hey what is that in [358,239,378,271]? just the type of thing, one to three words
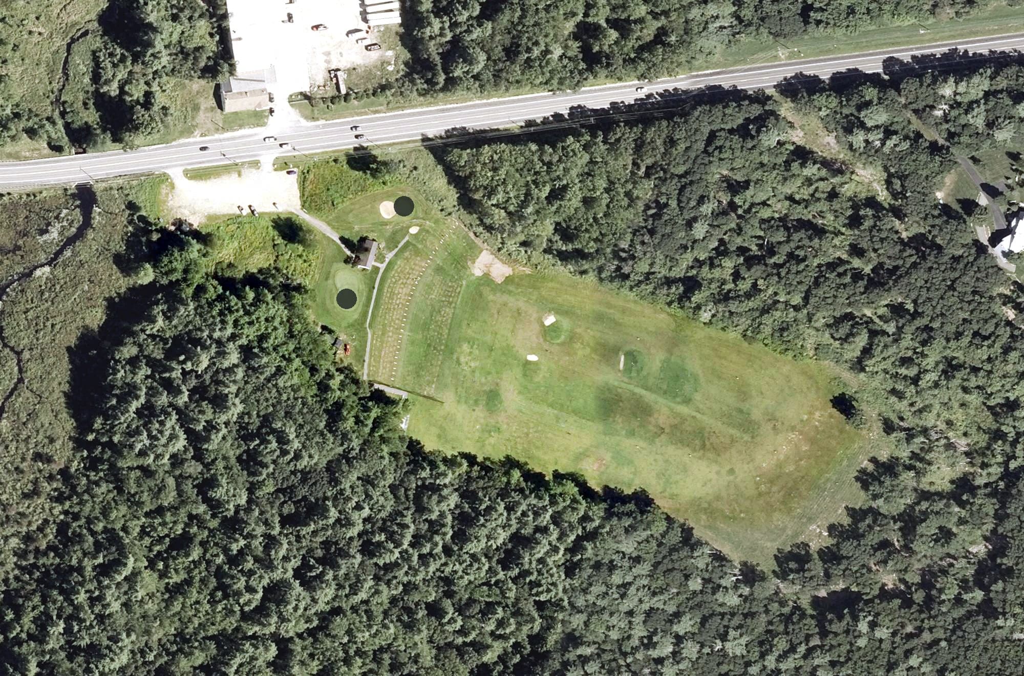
building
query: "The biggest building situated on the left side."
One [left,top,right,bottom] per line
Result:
[222,66,276,112]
